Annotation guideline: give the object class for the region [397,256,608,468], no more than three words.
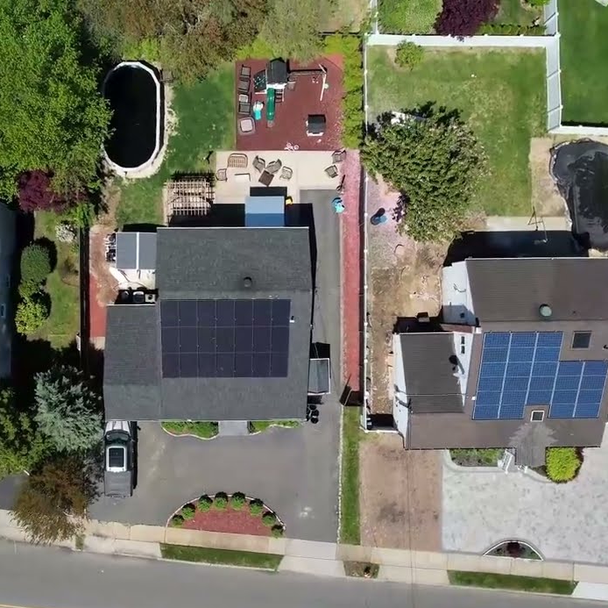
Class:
house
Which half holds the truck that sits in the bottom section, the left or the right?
left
